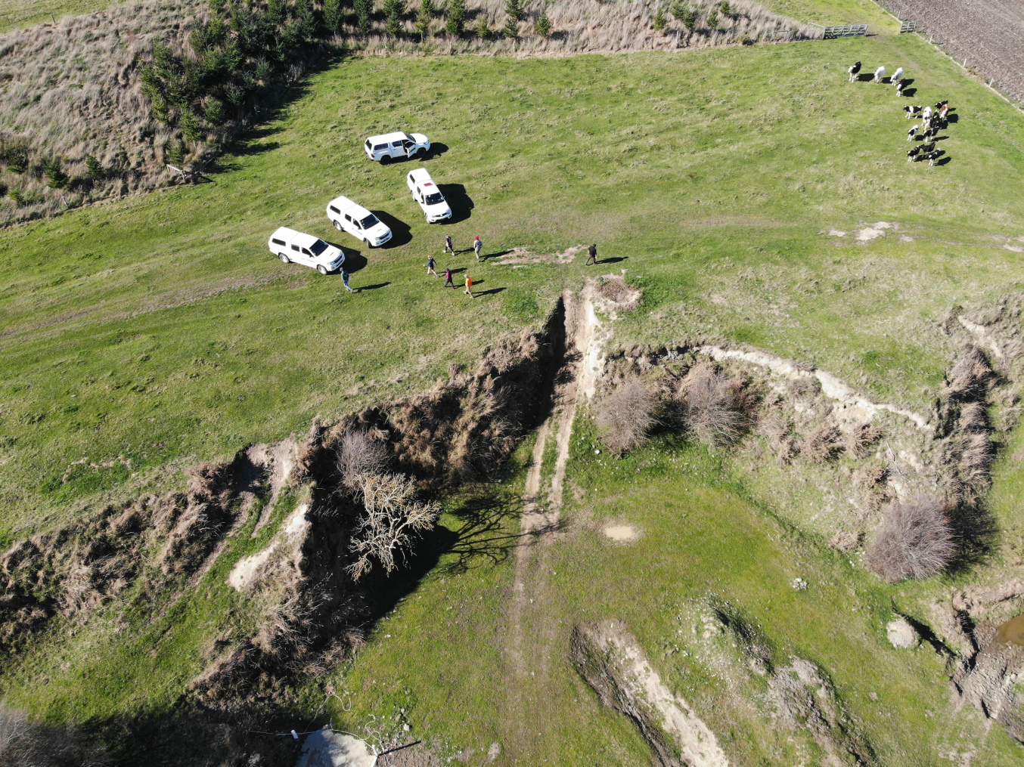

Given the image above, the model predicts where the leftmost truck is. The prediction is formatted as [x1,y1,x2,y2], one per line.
[263,225,347,275]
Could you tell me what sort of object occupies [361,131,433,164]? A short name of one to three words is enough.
truck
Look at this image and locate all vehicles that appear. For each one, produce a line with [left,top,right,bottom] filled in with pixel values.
[263,225,347,275]
[323,195,395,249]
[361,131,433,164]
[405,169,453,223]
